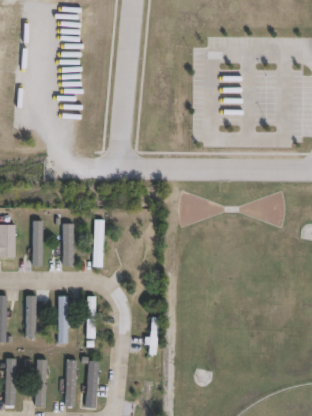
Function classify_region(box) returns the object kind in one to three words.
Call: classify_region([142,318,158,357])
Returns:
house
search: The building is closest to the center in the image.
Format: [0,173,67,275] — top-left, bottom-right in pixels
[92,220,105,268]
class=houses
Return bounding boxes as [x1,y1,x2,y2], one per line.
[62,224,74,267]
[0,224,18,259]
[92,220,105,268]
[85,362,100,410]
[32,221,44,266]
[35,360,48,409]
[58,297,68,345]
[142,318,158,357]
[26,296,38,340]
[4,360,18,407]
[66,360,78,410]
[86,297,98,340]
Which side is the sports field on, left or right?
right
